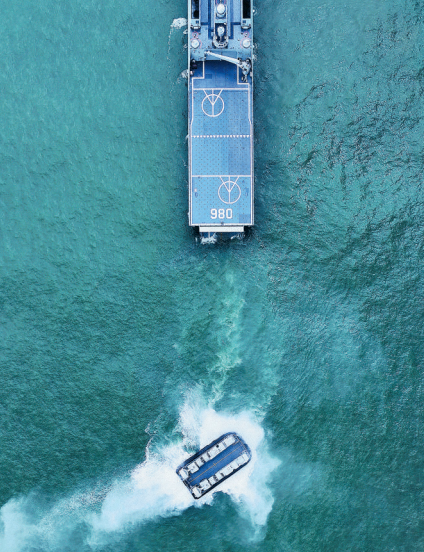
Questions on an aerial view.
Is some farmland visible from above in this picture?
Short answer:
No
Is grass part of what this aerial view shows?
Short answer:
No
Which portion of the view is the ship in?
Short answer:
top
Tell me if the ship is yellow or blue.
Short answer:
blue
